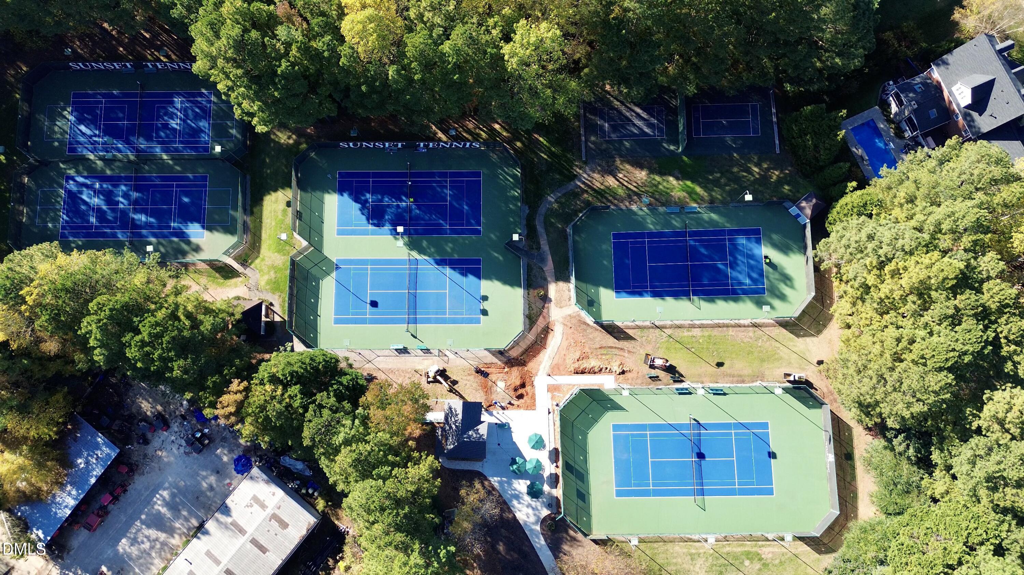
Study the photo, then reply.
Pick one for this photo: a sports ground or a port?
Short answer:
sports ground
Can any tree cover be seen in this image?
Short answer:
Yes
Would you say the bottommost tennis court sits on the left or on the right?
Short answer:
right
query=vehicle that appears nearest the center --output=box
[471,364,493,382]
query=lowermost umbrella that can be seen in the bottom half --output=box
[527,482,543,499]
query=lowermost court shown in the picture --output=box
[560,387,830,537]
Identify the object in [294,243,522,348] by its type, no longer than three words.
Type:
tennis court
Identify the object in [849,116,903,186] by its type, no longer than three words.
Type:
swimming pool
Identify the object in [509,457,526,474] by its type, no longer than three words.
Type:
umbrella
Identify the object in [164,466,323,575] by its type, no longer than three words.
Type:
building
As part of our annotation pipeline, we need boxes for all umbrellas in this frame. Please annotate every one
[509,457,526,474]
[528,433,545,450]
[526,457,543,475]
[527,482,543,499]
